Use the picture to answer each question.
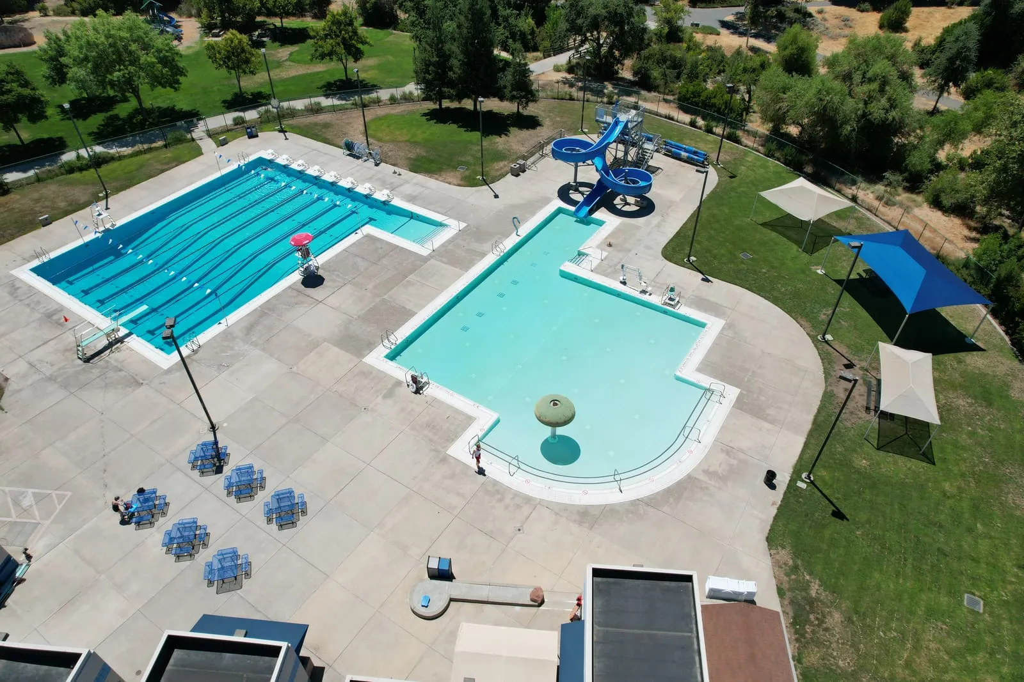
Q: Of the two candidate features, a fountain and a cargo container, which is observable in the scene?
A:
fountain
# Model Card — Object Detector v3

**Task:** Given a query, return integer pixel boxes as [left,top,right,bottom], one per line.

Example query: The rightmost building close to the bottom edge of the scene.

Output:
[559,560,712,682]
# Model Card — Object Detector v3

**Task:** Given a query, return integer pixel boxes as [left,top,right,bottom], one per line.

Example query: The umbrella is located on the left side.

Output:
[287,233,318,254]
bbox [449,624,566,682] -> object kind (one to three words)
building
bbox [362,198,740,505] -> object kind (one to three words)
swimming pool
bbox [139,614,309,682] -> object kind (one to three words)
building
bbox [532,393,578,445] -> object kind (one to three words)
fountain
